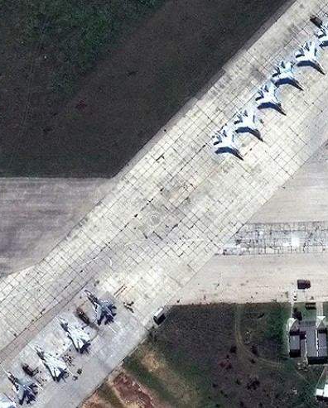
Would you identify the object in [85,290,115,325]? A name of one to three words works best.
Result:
airplane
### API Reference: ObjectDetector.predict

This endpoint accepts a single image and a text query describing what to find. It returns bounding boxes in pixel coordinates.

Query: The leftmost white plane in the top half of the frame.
[208,121,241,152]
